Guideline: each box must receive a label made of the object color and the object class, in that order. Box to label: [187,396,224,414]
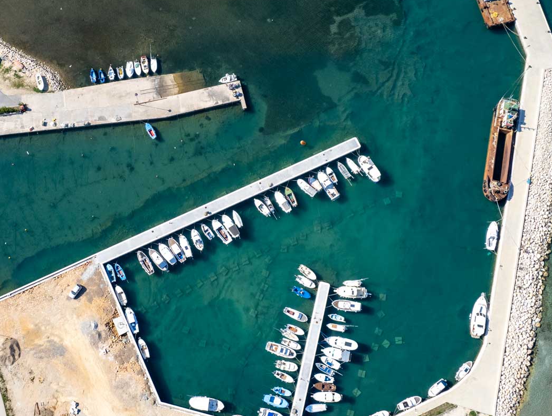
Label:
white boat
